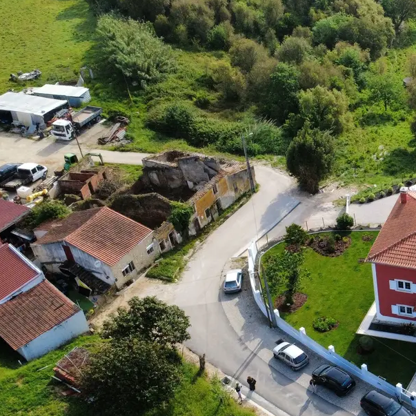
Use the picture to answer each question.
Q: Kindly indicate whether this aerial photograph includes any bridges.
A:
No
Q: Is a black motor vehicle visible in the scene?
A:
Yes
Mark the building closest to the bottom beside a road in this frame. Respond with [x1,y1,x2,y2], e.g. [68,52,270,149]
[0,277,88,366]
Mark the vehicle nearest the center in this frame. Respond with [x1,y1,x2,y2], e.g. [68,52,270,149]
[220,267,244,299]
